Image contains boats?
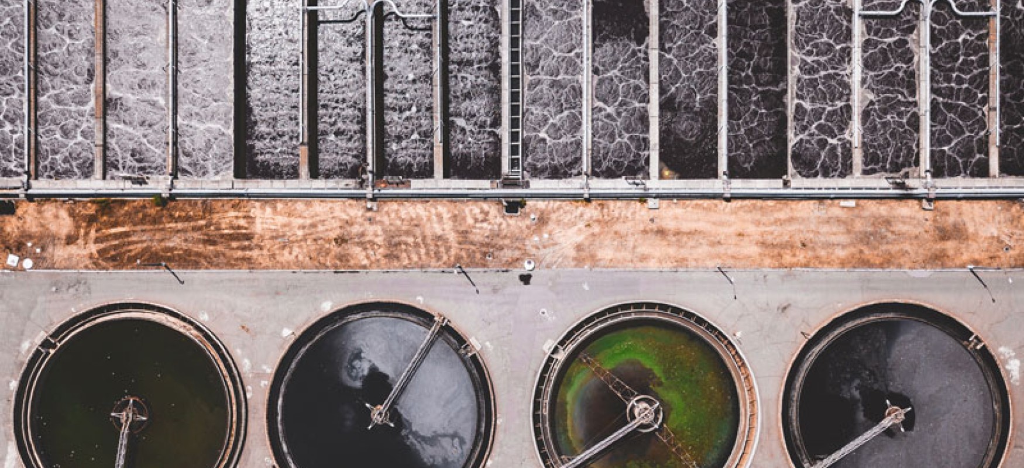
No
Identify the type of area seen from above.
industrial area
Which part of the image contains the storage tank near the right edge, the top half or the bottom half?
bottom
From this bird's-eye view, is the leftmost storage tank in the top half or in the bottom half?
bottom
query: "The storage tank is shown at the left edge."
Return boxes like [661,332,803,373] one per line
[13,302,245,468]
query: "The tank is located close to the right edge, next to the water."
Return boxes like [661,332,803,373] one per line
[782,301,1011,468]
